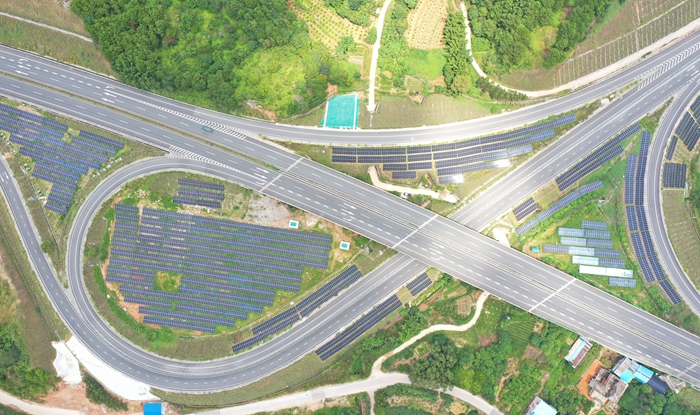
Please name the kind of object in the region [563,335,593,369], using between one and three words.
shed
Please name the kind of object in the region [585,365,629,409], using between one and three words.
house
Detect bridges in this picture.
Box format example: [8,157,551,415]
[262,149,700,396]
